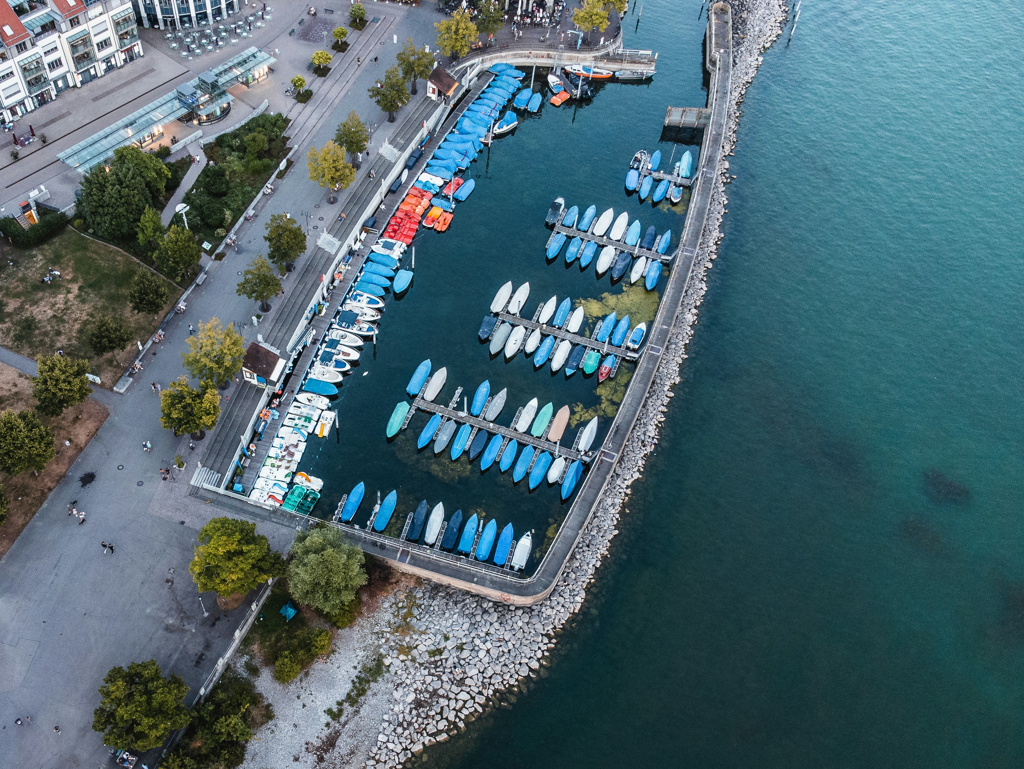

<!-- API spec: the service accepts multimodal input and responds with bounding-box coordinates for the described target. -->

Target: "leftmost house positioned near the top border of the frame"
[0,0,144,123]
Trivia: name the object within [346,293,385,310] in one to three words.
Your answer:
boat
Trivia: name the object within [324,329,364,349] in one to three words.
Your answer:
boat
